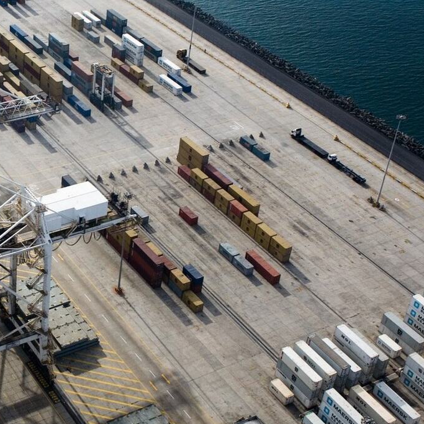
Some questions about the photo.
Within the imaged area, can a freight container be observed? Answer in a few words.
Yes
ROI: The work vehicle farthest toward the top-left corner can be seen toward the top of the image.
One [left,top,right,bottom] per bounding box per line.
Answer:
[91,63,119,111]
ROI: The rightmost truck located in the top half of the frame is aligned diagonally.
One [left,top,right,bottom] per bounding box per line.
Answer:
[326,150,369,183]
